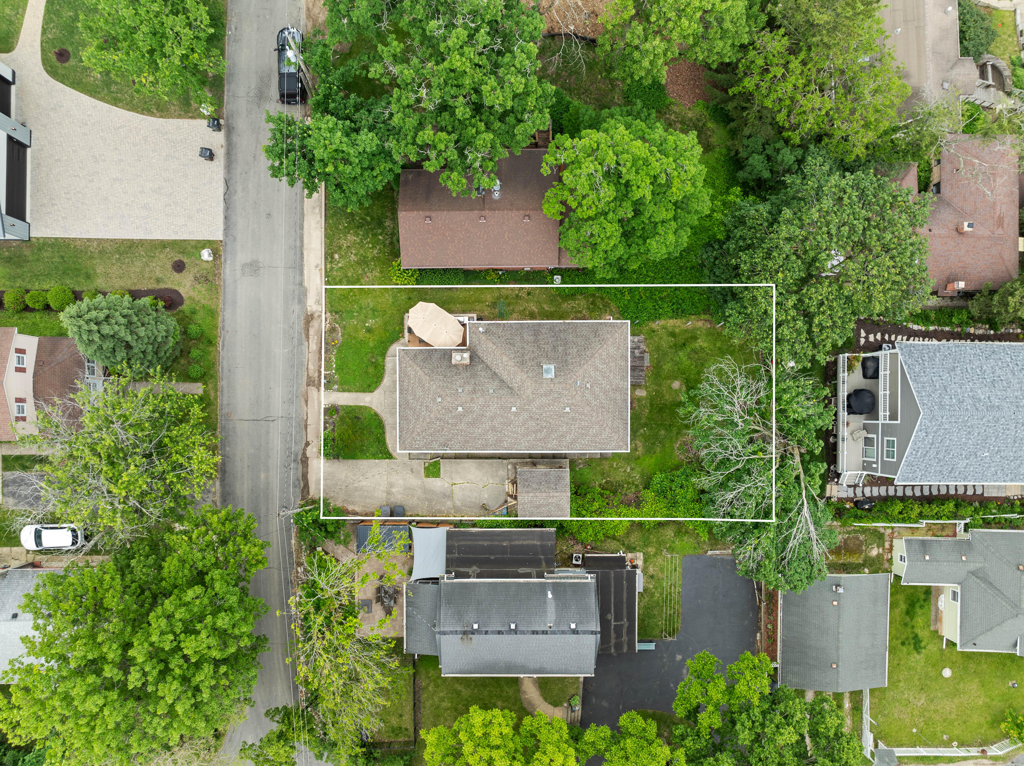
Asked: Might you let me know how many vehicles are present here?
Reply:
2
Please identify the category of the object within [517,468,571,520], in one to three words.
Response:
shed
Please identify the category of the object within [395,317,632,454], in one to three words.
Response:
house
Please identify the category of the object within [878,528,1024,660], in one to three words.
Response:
building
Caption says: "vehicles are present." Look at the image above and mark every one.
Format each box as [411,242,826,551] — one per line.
[272,29,308,108]
[24,521,86,553]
